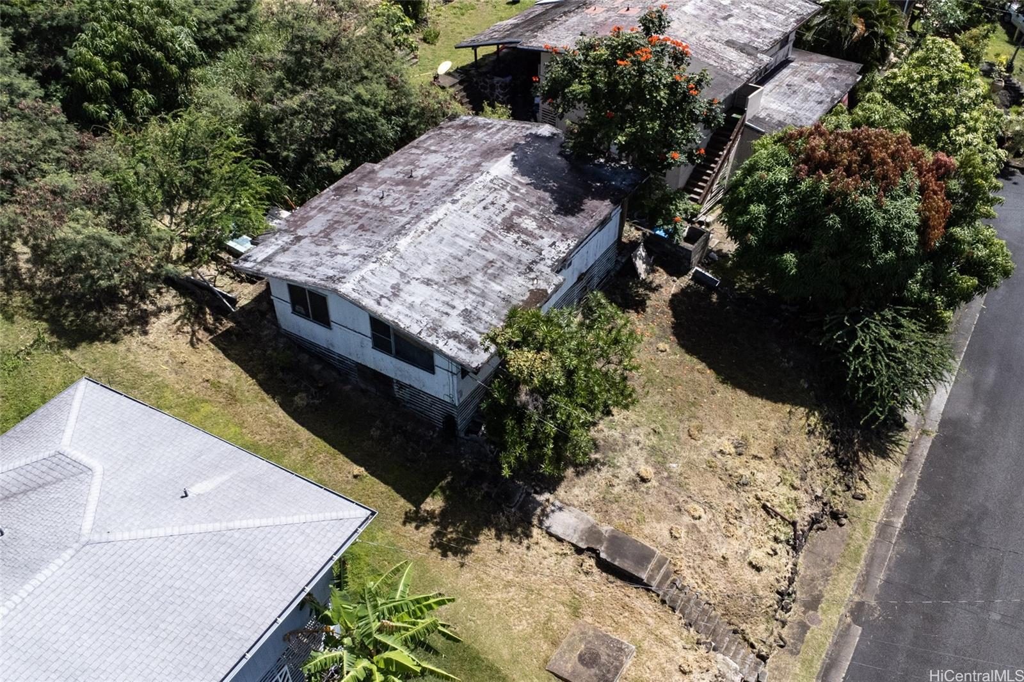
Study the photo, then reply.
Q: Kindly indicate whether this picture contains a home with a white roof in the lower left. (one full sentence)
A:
Yes, a home with a white roof shows up in the lower left.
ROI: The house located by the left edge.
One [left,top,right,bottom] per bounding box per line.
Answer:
[0,373,379,682]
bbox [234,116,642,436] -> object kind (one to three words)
house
